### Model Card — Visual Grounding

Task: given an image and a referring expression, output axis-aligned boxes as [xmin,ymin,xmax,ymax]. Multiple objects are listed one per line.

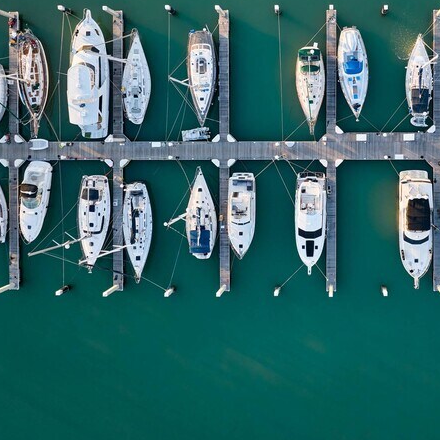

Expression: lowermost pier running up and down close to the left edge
[8,160,21,291]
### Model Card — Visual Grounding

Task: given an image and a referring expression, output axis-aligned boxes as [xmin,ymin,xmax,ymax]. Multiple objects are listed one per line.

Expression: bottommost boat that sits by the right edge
[398,169,434,291]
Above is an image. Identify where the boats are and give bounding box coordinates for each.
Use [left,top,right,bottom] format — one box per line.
[296,42,326,134]
[28,138,50,149]
[405,34,440,115]
[59,8,116,138]
[182,126,210,140]
[293,170,328,277]
[84,182,153,282]
[86,29,153,123]
[410,115,429,126]
[398,169,434,291]
[0,28,53,137]
[172,25,218,127]
[31,174,114,270]
[226,172,257,260]
[0,65,8,125]
[0,181,10,244]
[19,161,56,243]
[166,166,219,258]
[336,25,371,121]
